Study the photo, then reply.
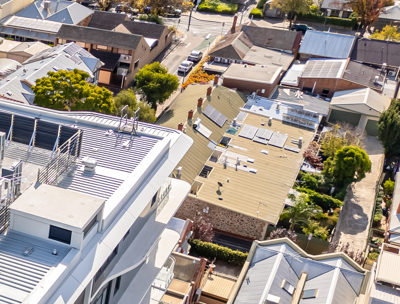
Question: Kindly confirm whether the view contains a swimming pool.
No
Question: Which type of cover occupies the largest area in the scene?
buildings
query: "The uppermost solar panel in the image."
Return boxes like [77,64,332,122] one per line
[4,16,65,32]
